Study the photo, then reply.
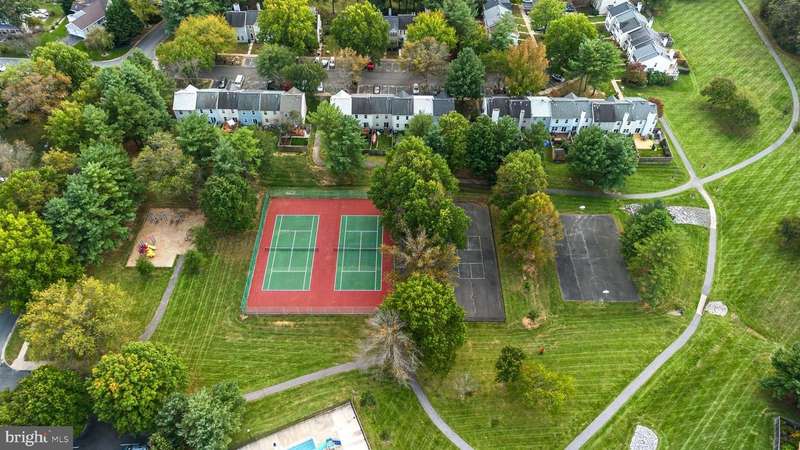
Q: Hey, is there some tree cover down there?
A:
Yes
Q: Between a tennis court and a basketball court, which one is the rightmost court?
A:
basketball court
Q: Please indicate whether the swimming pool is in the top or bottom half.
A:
bottom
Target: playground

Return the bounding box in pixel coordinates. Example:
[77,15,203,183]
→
[126,207,207,267]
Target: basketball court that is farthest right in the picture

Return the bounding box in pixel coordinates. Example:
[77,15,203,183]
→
[544,213,637,301]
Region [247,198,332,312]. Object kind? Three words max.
tennis court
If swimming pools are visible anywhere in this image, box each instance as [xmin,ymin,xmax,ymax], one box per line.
[238,403,370,450]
